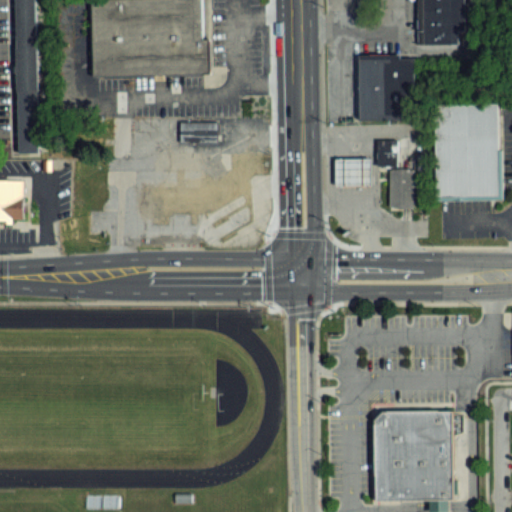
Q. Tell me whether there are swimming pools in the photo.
No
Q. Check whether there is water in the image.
No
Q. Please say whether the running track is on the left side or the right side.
left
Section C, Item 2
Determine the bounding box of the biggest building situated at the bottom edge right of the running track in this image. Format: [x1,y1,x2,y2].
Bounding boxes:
[376,412,455,502]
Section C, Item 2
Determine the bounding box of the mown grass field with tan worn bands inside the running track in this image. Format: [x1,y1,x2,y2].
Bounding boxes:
[0,328,264,470]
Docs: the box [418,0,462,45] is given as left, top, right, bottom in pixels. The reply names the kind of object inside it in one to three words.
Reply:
building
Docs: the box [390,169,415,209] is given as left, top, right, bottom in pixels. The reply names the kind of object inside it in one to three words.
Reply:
building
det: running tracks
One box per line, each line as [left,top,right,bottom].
[0,310,282,488]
